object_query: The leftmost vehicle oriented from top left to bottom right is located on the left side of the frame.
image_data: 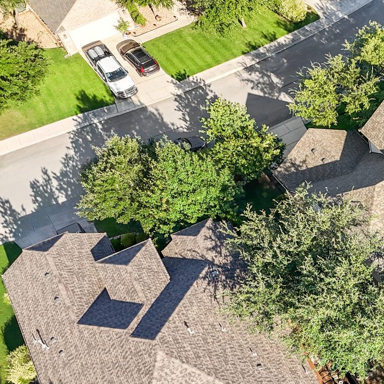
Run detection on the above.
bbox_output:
[83,39,132,91]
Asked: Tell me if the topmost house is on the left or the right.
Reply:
left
